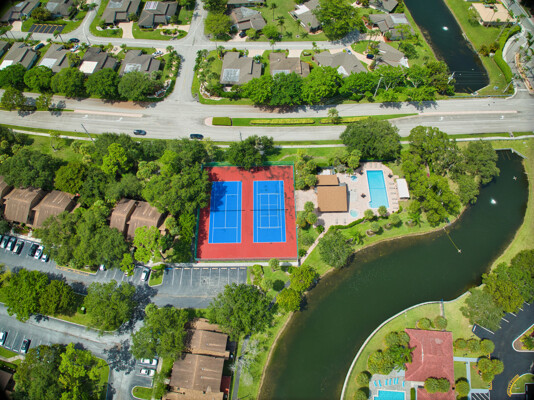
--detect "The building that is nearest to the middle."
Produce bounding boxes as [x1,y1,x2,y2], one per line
[316,175,348,214]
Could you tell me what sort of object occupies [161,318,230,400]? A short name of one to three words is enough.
house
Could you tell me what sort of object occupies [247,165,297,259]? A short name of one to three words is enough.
tennis court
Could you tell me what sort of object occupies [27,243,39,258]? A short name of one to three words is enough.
vehicle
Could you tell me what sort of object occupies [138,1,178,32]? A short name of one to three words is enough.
house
